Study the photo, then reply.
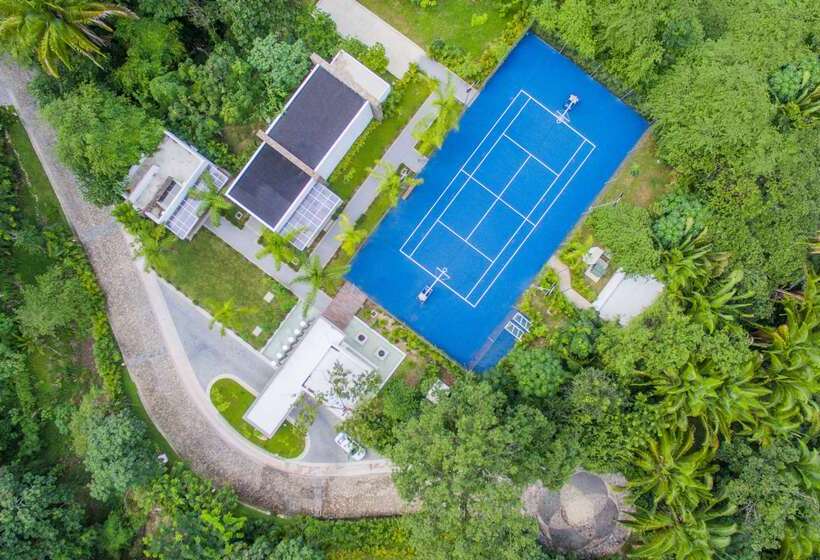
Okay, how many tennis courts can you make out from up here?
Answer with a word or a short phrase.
1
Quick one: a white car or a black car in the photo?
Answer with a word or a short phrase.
white car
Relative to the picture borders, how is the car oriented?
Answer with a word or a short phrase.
diagonally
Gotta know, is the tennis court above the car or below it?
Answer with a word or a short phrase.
above it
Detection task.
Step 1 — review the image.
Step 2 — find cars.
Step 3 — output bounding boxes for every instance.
[333,433,366,463]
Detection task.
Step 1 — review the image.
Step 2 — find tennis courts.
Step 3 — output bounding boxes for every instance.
[348,34,645,379]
